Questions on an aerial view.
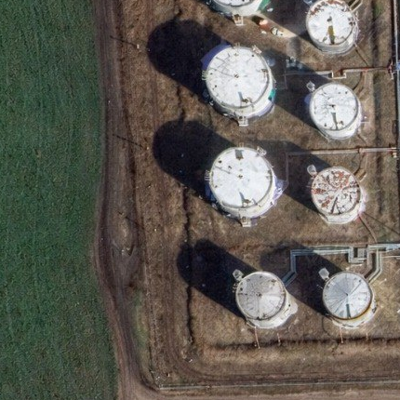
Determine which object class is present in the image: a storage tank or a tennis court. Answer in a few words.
storage tank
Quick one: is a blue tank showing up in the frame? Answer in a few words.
No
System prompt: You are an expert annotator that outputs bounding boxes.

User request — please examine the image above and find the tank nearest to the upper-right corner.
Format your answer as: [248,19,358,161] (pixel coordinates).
[303,0,362,55]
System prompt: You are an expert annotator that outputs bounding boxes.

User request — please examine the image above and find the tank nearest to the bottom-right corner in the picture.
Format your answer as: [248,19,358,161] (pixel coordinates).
[319,269,378,340]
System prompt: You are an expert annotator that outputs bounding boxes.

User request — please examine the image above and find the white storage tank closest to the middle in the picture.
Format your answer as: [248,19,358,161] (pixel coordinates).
[206,142,279,236]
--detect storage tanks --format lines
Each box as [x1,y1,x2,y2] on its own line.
[206,142,279,236]
[210,0,269,34]
[303,0,362,55]
[319,269,378,340]
[202,42,274,136]
[233,270,295,347]
[307,81,365,140]
[307,165,374,226]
